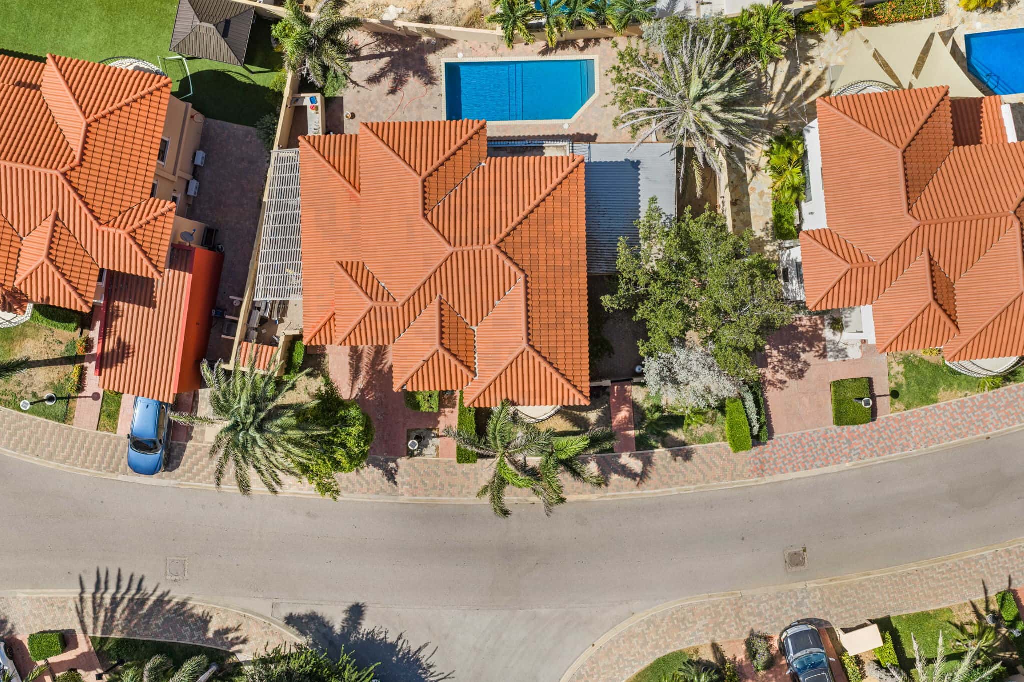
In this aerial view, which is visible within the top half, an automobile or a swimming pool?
swimming pool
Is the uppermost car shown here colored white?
No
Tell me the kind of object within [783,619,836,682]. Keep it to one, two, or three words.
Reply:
car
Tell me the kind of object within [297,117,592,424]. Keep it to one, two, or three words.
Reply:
house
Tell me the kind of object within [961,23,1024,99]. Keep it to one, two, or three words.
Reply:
swimming pool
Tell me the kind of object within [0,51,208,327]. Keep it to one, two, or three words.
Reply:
house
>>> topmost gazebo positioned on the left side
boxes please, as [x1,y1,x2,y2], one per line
[169,0,266,79]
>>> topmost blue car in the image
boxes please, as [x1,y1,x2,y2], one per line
[122,395,173,473]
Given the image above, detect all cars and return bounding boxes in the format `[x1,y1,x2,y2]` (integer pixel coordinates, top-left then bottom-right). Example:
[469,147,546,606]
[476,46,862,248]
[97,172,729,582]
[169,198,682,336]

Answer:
[783,619,836,682]
[0,637,21,682]
[122,395,173,473]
